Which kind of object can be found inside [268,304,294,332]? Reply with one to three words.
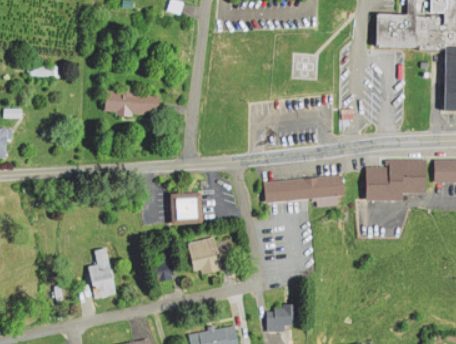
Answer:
house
